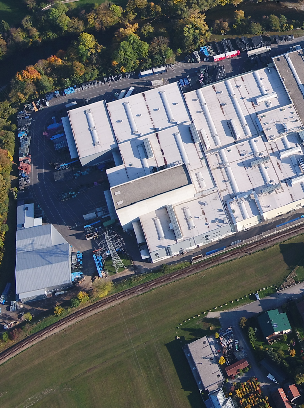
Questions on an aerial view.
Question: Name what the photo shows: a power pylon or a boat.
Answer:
power pylon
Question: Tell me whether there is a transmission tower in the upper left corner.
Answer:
No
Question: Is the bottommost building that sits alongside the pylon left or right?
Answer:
left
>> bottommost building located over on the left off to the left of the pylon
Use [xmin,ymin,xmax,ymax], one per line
[17,243,75,299]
